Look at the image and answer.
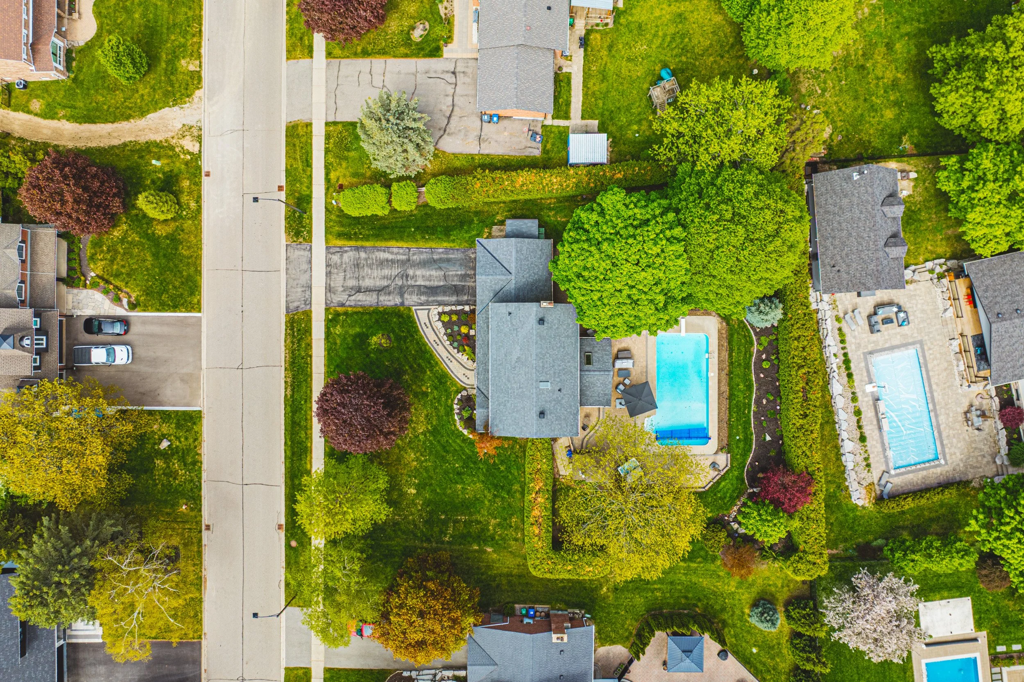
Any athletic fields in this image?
No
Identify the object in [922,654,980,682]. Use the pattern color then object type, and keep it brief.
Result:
blue swimming pool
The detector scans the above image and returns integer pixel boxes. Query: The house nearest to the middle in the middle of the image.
[475,219,613,438]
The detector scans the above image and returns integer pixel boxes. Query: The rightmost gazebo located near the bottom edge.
[663,631,704,673]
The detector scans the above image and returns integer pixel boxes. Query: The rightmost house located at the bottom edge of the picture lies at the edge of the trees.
[467,609,595,682]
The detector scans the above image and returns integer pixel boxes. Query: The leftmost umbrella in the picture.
[616,381,657,417]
